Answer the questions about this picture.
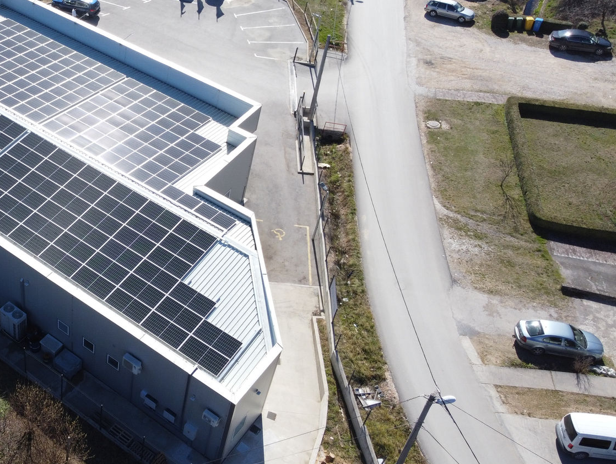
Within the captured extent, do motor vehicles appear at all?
Yes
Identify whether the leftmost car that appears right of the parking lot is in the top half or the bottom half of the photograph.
top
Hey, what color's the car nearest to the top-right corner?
black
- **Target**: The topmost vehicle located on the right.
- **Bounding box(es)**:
[424,0,476,24]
